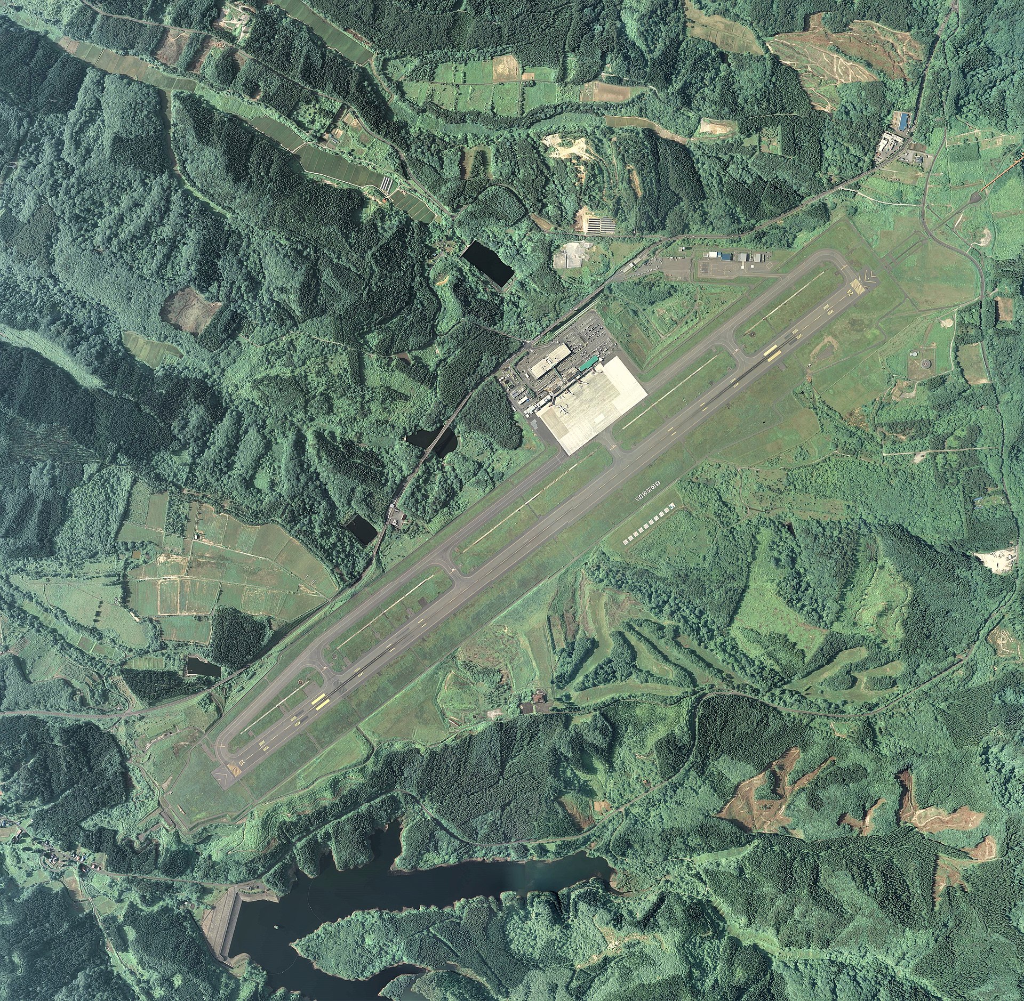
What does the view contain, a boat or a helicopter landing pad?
helicopter landing pad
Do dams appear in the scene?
Yes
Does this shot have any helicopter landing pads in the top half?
Yes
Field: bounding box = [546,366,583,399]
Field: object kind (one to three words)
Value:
building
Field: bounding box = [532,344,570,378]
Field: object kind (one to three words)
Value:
building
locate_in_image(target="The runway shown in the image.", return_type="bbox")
[212,265,881,790]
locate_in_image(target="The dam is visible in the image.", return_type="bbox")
[206,885,281,966]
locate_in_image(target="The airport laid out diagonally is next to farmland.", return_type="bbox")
[197,248,881,806]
